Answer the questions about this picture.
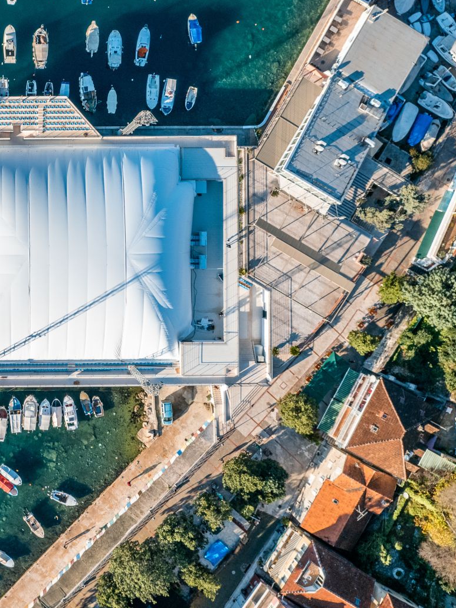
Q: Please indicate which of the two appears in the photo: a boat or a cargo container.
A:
boat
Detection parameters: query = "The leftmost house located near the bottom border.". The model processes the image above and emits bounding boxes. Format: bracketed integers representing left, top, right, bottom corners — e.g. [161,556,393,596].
[232,574,283,608]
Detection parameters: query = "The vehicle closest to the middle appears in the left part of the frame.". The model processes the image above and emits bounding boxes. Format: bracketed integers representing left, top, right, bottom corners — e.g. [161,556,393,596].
[162,401,175,426]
